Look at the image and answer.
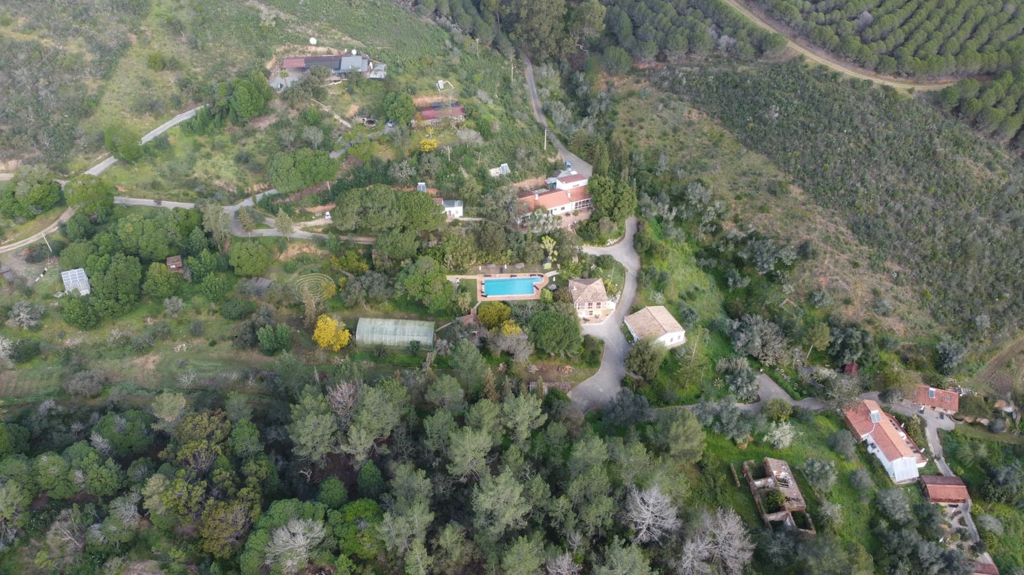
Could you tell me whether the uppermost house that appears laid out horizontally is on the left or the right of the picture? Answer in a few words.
left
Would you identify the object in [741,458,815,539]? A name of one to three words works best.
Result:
house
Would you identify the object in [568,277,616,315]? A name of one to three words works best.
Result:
building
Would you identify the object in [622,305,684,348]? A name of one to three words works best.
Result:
house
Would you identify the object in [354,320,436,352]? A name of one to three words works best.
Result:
greenhouse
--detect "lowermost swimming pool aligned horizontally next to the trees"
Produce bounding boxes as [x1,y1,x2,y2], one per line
[477,273,549,302]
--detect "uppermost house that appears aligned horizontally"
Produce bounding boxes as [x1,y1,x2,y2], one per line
[280,54,371,78]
